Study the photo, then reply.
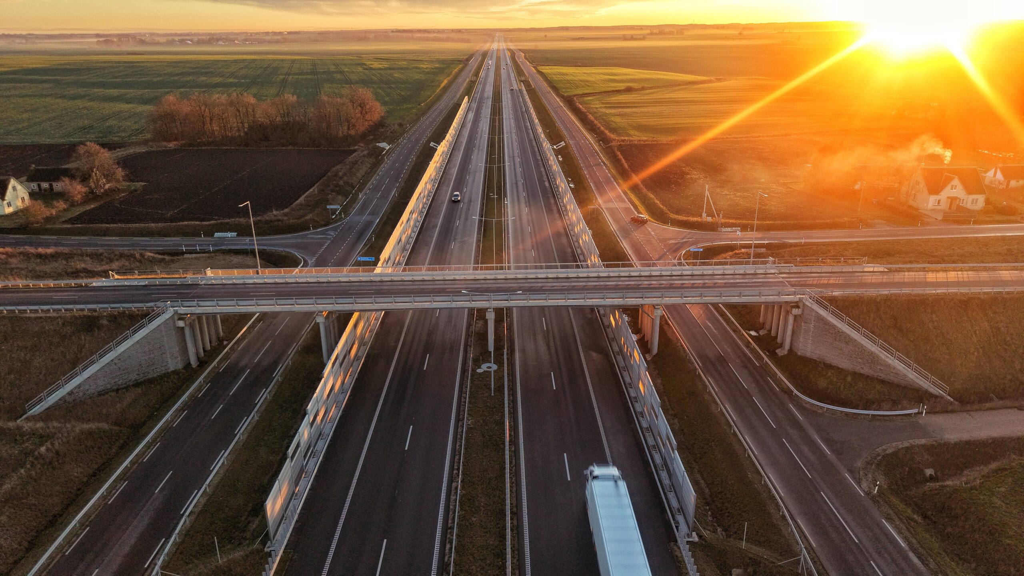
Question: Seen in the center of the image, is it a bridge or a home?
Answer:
bridge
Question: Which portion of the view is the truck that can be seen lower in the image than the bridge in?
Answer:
bottom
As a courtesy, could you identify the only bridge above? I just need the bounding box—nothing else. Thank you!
[176,264,806,366]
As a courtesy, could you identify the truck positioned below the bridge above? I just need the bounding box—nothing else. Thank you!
[583,461,650,576]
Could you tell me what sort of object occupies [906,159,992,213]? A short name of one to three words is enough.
house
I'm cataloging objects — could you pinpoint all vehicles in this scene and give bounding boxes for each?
[583,461,650,576]
[451,192,461,201]
[629,212,650,222]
